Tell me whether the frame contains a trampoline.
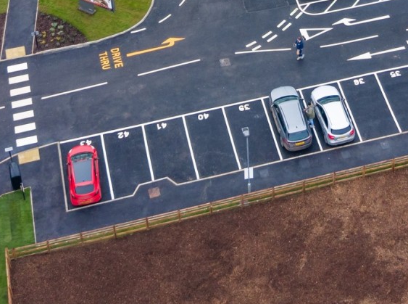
No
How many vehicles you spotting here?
3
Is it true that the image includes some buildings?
No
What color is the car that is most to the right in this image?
white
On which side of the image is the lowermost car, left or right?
left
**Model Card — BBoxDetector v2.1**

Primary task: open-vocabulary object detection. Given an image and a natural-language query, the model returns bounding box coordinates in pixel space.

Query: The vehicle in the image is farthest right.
[307,89,361,147]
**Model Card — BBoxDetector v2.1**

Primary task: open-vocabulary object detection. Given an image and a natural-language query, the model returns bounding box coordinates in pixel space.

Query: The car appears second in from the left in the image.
[266,89,319,154]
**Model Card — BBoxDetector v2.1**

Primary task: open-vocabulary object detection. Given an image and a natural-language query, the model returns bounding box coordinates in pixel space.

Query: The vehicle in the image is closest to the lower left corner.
[65,146,105,212]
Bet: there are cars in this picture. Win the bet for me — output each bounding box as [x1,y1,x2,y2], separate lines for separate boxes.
[307,89,361,147]
[266,89,319,154]
[65,146,105,212]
